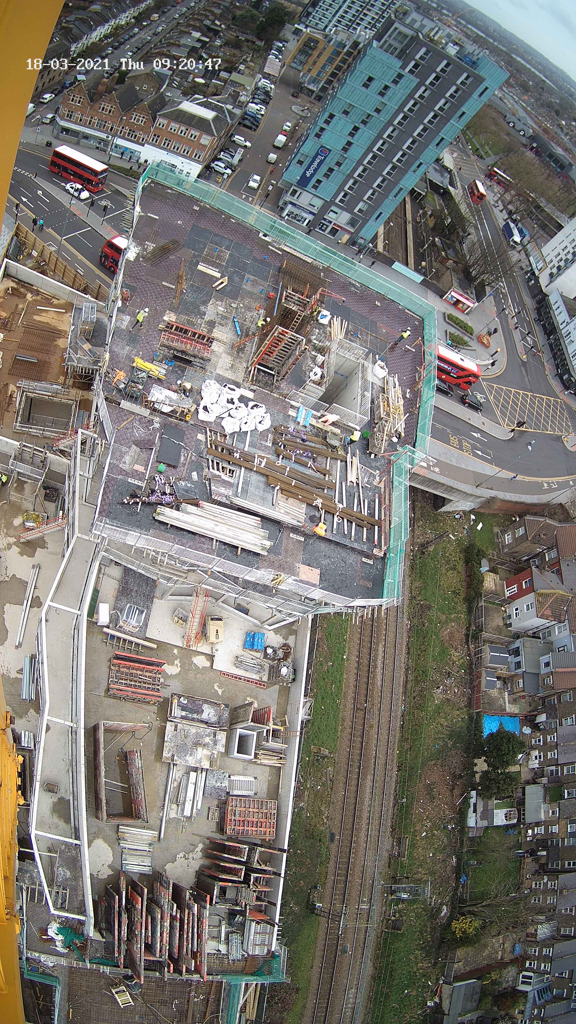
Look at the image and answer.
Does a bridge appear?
Yes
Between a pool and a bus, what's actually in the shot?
bus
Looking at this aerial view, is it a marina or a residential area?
residential area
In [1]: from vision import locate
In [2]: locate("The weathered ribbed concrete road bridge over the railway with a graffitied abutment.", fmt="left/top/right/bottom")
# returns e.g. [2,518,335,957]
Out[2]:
[390,464,490,514]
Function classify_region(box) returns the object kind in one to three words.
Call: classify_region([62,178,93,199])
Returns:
car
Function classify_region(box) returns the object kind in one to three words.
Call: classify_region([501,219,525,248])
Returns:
truck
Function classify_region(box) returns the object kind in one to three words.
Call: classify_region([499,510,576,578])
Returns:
house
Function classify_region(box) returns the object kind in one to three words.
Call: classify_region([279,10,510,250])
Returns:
building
